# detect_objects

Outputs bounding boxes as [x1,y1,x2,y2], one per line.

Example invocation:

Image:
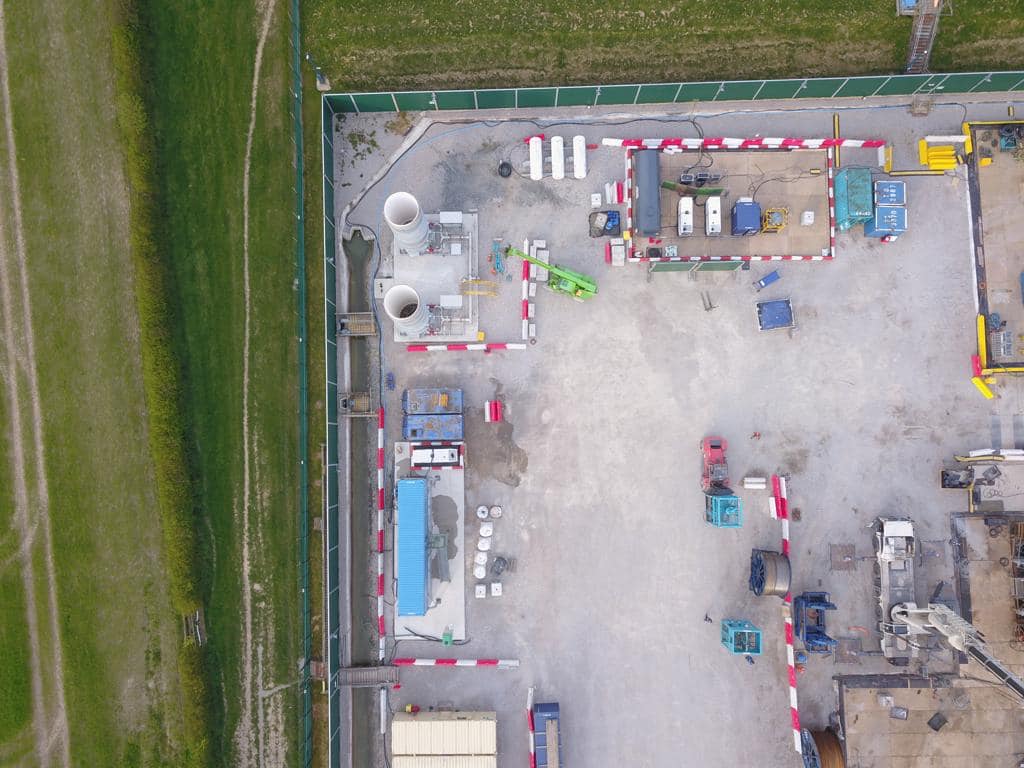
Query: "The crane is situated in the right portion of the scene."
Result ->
[849,517,1024,701]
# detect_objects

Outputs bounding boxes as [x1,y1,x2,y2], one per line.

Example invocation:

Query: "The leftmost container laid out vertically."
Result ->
[397,473,433,616]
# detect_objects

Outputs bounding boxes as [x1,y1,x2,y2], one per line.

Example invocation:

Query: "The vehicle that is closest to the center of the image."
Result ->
[505,243,599,301]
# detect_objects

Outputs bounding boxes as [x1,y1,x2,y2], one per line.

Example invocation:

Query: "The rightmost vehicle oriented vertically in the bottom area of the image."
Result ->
[700,437,729,498]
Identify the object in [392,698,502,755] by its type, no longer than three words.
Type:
building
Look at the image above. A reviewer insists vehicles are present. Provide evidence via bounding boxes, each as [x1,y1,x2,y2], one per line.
[700,437,729,498]
[505,243,599,301]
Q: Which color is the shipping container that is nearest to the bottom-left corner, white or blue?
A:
blue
